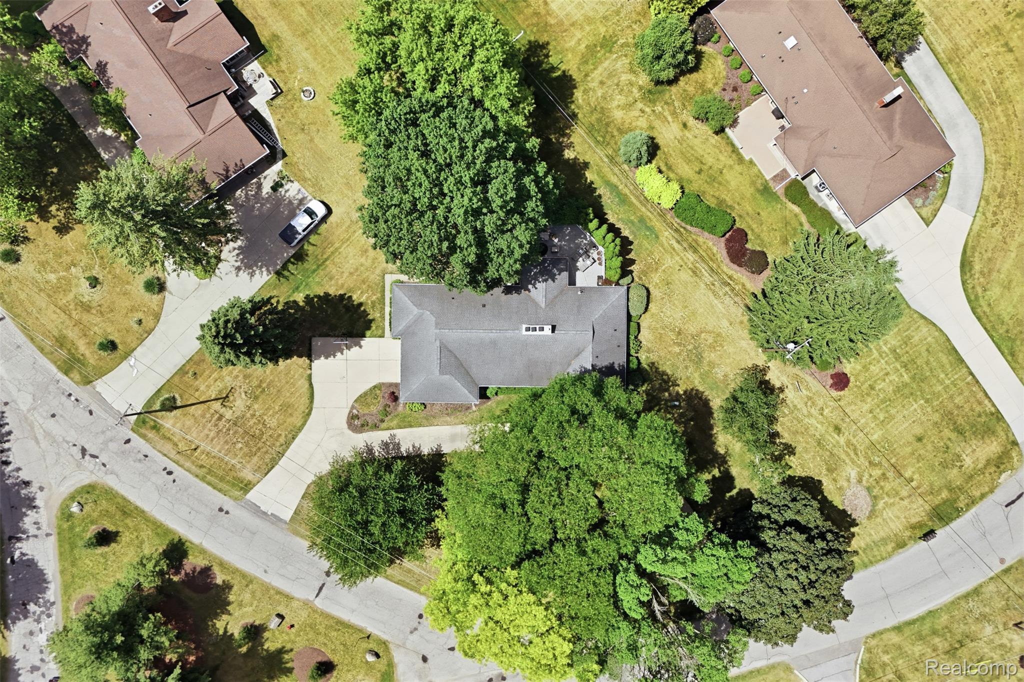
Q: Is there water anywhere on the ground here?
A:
No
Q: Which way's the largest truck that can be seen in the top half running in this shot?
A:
at an angle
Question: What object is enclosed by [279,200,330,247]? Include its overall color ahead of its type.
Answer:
white truck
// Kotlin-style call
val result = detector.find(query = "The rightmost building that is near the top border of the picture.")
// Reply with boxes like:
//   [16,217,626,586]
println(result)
[710,0,956,228]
